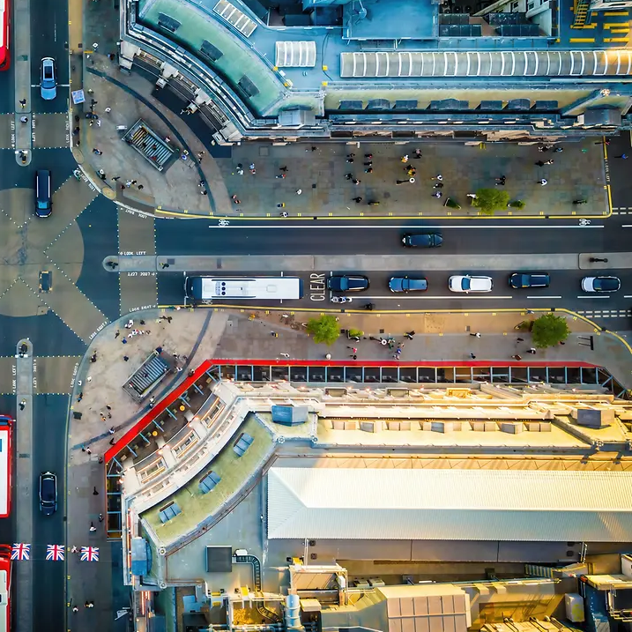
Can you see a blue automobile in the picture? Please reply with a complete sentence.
Yes, there is a blue automobile in the image.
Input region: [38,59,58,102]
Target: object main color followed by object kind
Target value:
blue car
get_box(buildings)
[107,0,632,150]
[106,378,632,632]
